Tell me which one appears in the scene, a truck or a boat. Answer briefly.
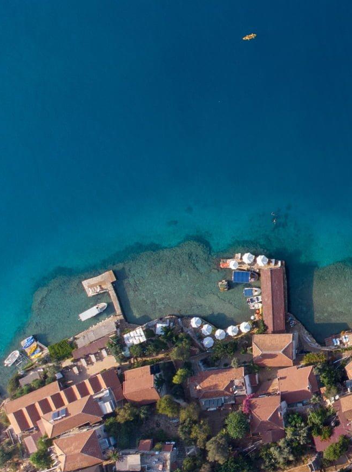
boat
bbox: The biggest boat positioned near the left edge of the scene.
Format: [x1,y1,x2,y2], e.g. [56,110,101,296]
[2,351,19,367]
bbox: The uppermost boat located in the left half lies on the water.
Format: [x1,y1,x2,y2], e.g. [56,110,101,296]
[73,305,107,323]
